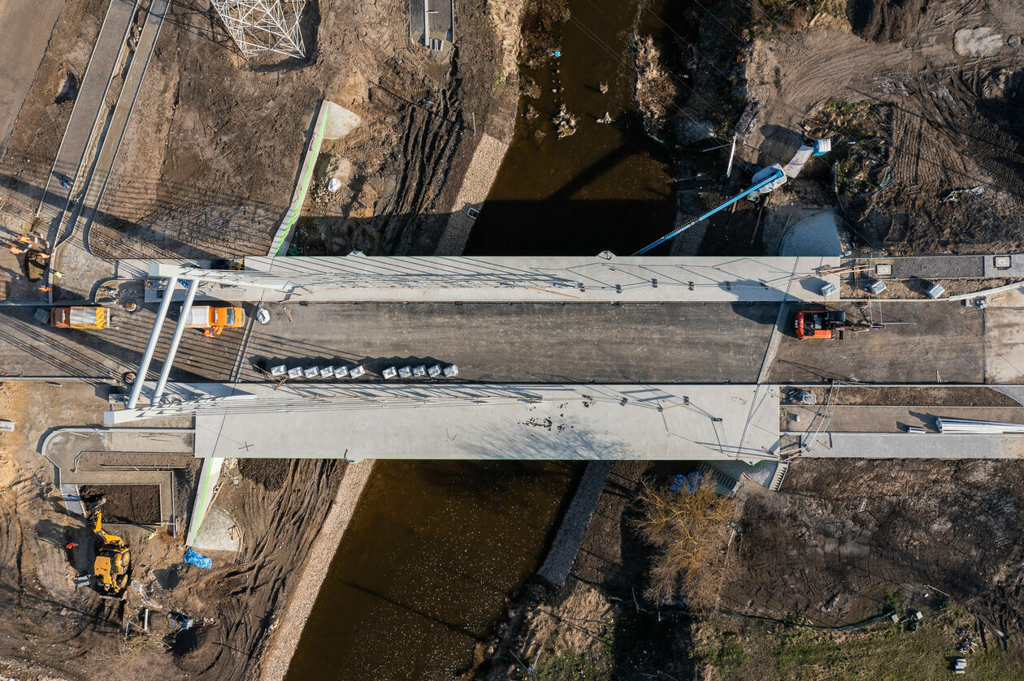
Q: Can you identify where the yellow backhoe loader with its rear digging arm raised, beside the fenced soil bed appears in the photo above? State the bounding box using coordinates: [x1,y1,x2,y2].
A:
[94,509,135,607]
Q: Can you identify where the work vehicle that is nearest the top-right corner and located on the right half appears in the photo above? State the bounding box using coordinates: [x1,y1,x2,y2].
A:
[792,310,880,339]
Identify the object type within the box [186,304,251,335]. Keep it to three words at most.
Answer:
truck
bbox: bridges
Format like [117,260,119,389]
[106,251,840,466]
